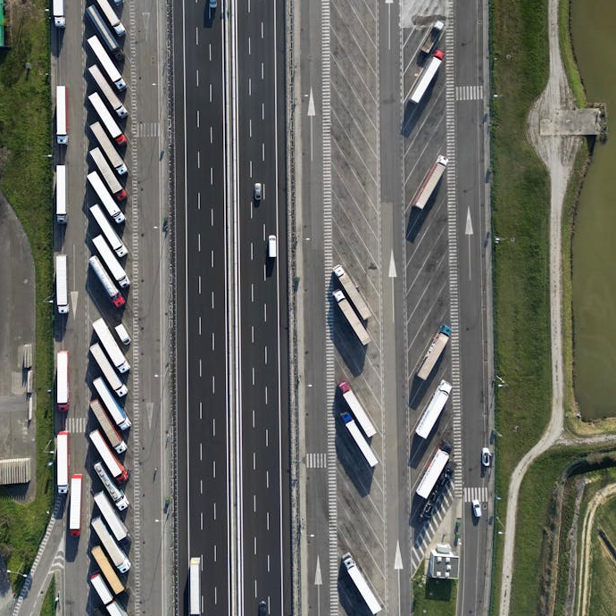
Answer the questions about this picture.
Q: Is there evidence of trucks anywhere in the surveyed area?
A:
Yes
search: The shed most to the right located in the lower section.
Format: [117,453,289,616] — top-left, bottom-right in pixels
[431,546,459,579]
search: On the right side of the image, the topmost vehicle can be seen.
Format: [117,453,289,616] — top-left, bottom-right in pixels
[420,22,446,58]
